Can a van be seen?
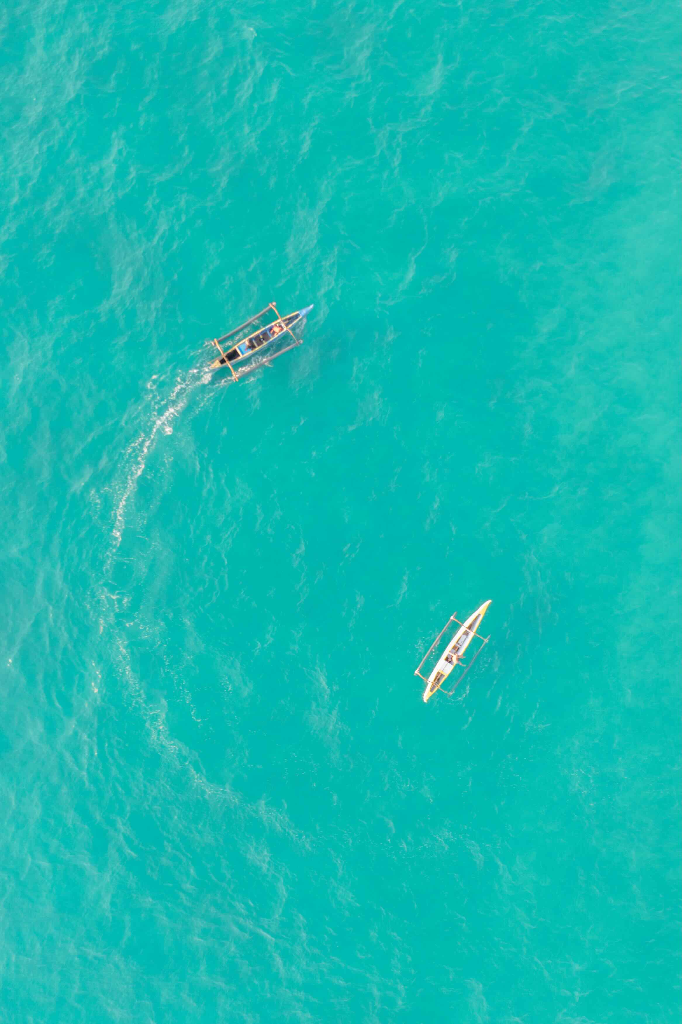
No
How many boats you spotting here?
2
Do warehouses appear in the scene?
No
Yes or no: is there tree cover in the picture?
No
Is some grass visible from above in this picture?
No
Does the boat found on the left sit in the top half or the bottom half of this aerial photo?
top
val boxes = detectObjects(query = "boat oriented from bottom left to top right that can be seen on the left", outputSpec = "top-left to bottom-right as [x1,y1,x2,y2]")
[208,302,314,382]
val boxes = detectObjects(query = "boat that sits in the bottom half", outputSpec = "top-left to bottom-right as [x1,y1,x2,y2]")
[414,600,492,702]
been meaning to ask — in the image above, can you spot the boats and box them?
[414,600,492,702]
[208,302,314,382]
